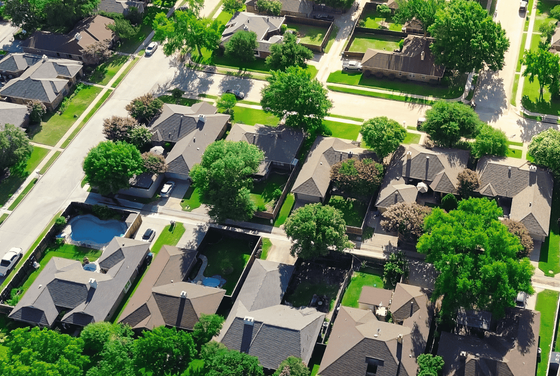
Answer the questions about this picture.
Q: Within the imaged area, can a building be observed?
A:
Yes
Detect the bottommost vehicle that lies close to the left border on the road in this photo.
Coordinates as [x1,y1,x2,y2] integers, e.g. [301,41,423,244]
[0,250,23,275]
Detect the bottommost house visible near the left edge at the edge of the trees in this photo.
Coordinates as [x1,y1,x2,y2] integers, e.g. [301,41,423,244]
[8,237,152,331]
